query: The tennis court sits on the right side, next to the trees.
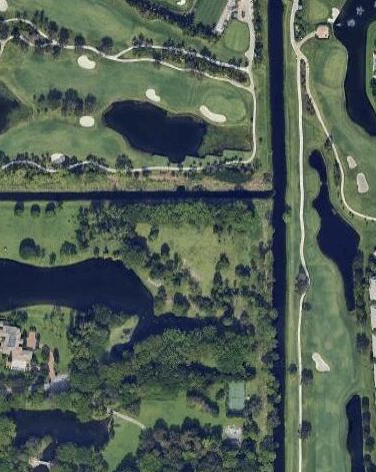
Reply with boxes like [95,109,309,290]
[228,380,245,409]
